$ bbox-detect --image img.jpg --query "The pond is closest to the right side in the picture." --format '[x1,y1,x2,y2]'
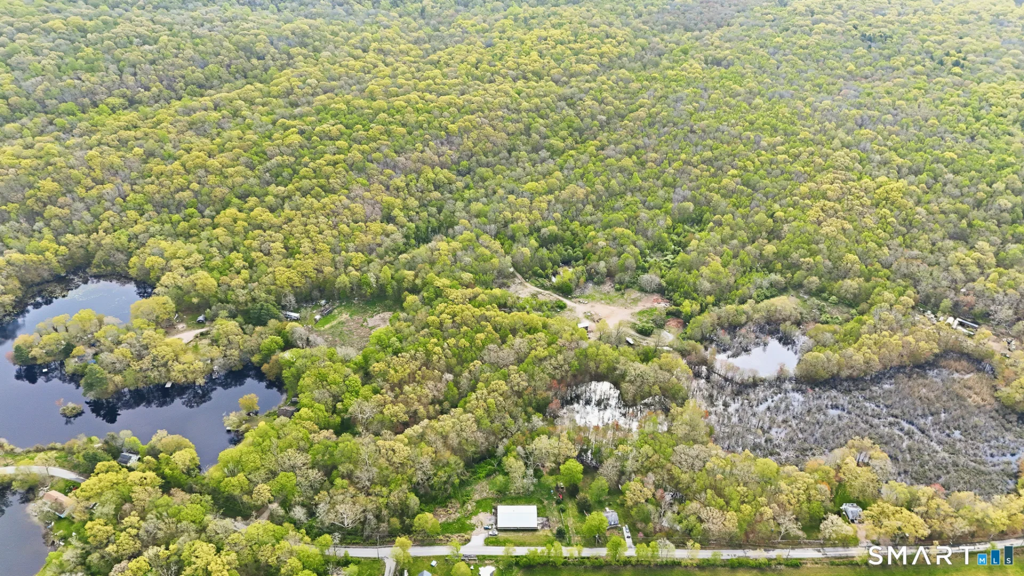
[701,323,838,388]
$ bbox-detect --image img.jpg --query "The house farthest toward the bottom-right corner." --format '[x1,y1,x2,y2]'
[841,503,863,523]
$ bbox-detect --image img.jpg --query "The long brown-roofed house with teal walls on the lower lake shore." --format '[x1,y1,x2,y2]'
[39,491,74,517]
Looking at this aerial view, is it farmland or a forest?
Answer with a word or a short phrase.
forest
